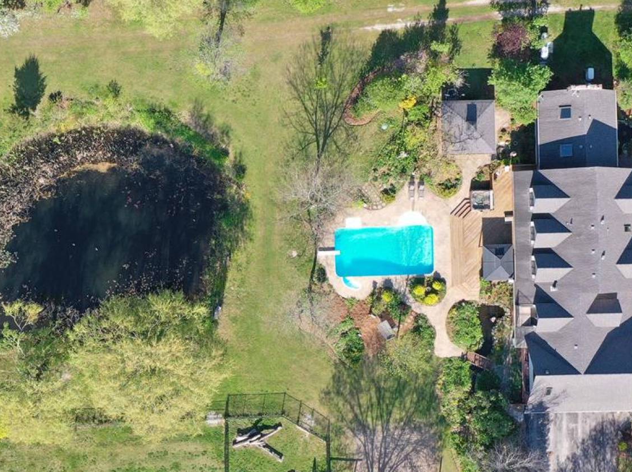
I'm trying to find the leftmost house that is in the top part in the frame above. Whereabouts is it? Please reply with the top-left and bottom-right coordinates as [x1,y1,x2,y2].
[441,99,496,155]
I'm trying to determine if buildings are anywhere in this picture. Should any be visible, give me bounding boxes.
[441,99,496,155]
[509,83,632,416]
